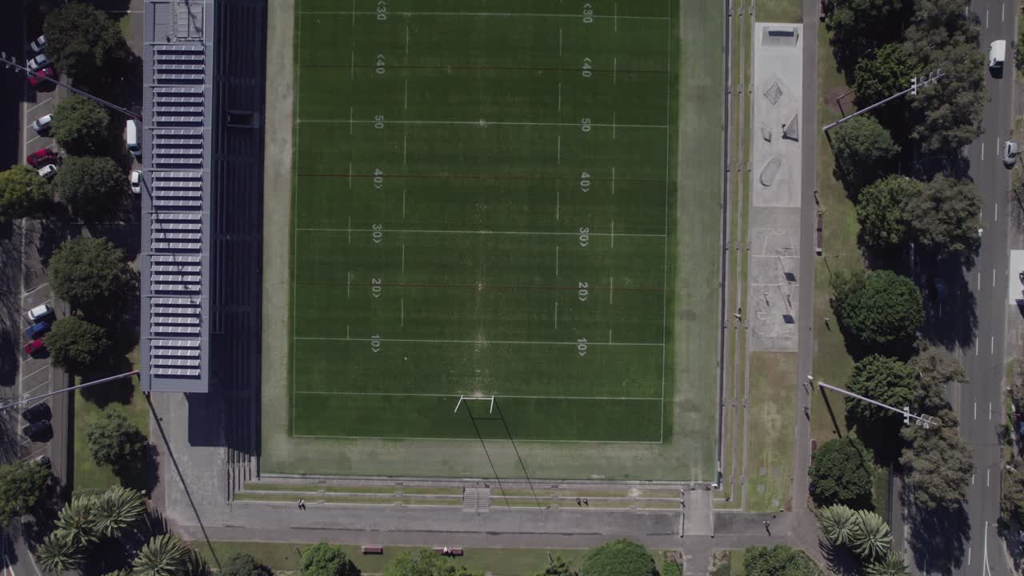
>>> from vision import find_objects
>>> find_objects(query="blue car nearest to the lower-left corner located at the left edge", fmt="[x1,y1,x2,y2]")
[26,319,49,337]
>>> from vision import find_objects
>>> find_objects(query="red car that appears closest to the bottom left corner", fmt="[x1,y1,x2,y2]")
[24,336,45,354]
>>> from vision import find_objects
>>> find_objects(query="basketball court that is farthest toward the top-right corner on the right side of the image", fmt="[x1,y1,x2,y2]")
[752,206,801,287]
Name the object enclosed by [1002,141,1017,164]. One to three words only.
car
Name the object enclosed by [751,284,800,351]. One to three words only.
basketball court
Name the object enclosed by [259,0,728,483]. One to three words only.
sports field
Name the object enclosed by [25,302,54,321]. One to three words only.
car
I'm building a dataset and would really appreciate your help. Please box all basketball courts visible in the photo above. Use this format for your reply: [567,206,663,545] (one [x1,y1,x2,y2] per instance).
[752,206,801,287]
[751,284,800,351]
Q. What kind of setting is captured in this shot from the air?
sports ground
